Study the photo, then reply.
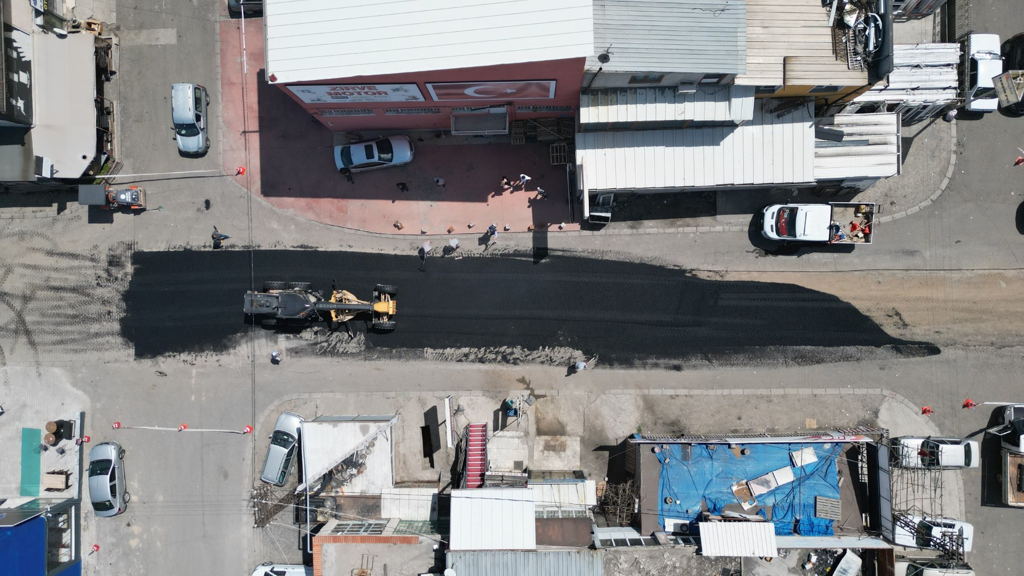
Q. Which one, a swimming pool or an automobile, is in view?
automobile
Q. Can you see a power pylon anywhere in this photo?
Yes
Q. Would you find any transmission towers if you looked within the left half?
Yes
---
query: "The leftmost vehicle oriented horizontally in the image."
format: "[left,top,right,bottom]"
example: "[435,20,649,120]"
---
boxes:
[78,185,149,210]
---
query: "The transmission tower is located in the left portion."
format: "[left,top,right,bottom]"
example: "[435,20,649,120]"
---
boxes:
[255,477,312,530]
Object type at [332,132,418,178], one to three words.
car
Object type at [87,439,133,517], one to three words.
car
